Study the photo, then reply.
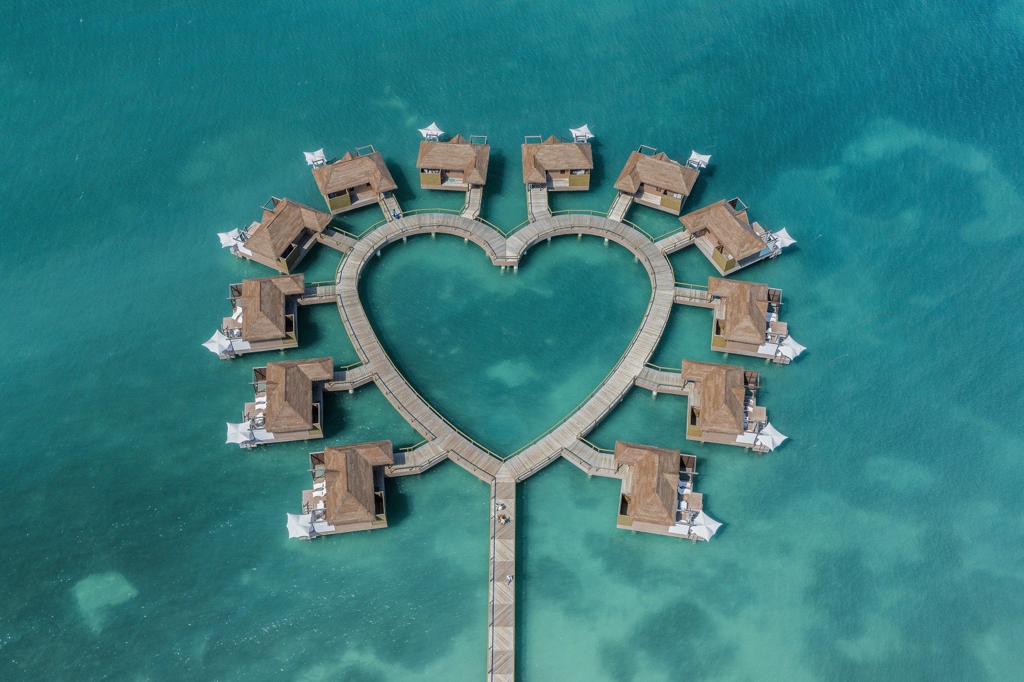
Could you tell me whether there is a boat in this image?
No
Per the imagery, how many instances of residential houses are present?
twelve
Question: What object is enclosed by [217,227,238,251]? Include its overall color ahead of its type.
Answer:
white umbrella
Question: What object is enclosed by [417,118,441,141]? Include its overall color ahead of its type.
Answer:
white umbrella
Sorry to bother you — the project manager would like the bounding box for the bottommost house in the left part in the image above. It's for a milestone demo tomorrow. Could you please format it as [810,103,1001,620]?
[300,438,394,543]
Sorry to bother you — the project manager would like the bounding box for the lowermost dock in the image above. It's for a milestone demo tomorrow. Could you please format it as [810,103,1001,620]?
[485,479,516,682]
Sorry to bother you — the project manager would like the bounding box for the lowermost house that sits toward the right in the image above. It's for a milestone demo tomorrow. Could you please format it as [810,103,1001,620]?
[613,440,705,546]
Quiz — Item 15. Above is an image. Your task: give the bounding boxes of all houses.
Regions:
[314,144,394,215]
[613,440,705,546]
[616,144,698,216]
[221,272,307,361]
[706,275,789,366]
[300,438,394,543]
[416,130,489,197]
[241,356,332,452]
[677,194,778,276]
[679,358,768,456]
[233,194,335,274]
[521,131,593,197]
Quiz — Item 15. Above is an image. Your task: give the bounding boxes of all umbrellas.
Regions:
[217,227,238,251]
[769,223,797,248]
[284,510,313,540]
[569,121,593,142]
[686,145,711,169]
[417,118,441,141]
[301,144,327,168]
[202,329,233,356]
[685,508,723,544]
[226,420,248,447]
[778,332,810,361]
[760,422,790,450]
